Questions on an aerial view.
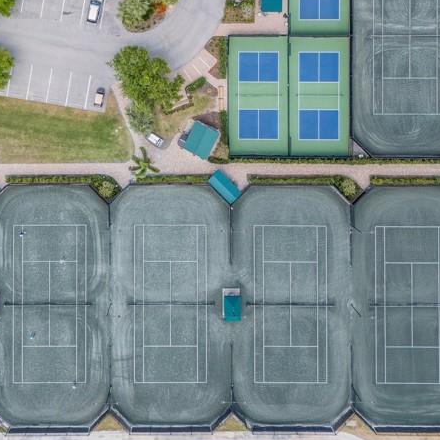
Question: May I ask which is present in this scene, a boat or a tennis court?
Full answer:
The image shows a tennis court.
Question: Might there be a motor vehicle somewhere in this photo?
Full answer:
Yes, a motor vehicle can be made out from above.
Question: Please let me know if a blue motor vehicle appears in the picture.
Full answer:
No, no blue motor vehicle is visible in the view.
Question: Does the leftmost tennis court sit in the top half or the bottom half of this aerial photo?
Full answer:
Seen from above, the leftmost tennis court lies in the bottom half of the view.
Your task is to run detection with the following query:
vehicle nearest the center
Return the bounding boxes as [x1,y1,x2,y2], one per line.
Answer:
[143,130,166,150]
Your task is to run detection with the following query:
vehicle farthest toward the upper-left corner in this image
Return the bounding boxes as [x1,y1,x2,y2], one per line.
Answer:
[86,0,102,23]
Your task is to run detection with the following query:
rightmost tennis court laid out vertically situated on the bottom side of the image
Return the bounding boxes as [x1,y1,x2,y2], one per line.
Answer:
[351,187,440,427]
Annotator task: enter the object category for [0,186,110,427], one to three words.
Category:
tennis court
